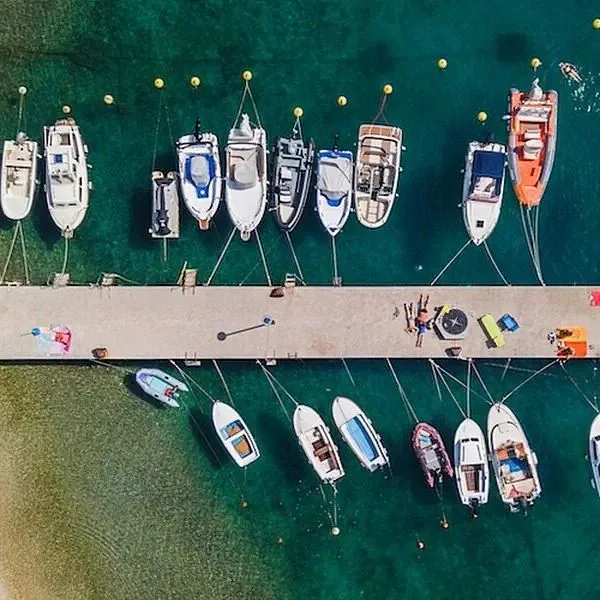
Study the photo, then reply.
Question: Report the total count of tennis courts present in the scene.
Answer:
0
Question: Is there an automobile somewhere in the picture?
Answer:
No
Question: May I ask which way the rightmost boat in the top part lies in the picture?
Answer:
vertically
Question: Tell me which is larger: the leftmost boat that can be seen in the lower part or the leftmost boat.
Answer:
the leftmost boat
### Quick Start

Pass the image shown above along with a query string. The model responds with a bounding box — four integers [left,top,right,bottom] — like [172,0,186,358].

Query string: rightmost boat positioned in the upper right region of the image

[502,79,556,207]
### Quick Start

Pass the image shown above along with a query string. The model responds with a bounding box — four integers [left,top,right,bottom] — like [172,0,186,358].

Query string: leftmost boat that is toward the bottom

[137,371,189,406]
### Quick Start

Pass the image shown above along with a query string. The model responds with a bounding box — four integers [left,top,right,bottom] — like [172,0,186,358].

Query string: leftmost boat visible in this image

[1,131,41,221]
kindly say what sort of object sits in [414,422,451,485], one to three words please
boat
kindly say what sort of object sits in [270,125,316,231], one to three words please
boat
